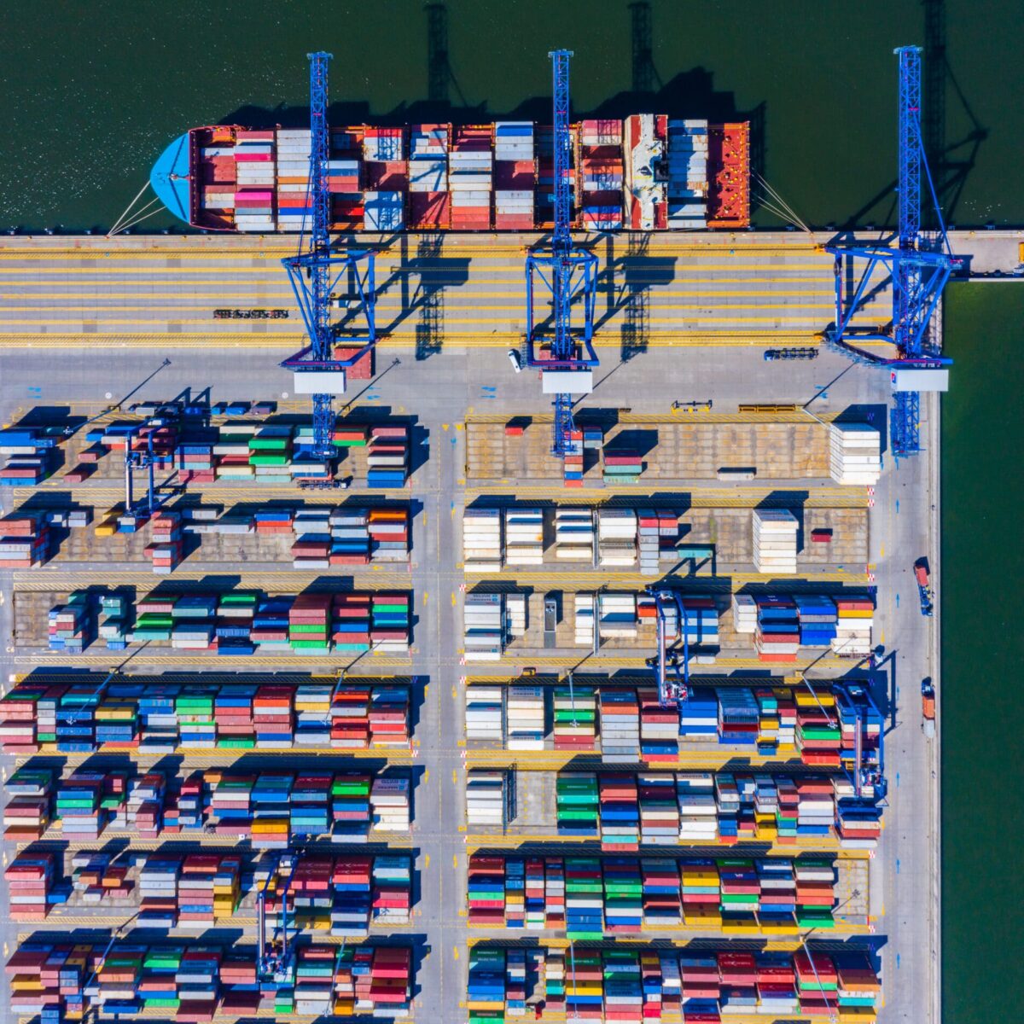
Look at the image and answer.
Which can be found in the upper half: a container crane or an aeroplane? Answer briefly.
container crane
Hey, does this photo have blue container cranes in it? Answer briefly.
Yes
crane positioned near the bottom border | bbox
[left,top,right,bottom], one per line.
[255,845,309,980]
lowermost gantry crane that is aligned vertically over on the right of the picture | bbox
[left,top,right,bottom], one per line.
[829,679,887,801]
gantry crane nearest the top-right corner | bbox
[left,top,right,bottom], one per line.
[819,46,963,458]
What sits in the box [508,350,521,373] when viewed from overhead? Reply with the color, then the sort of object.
white vehicle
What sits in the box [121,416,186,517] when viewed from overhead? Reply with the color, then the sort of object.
blue container crane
